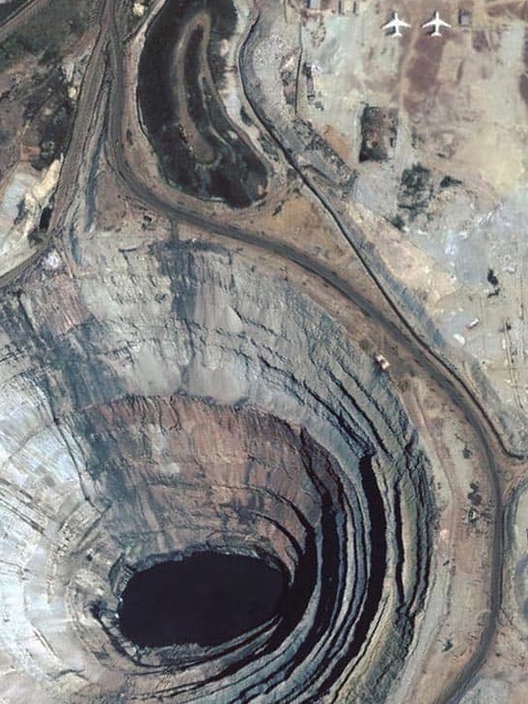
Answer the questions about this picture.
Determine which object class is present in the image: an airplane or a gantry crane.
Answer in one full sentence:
Looking from above, you can make out an airplane.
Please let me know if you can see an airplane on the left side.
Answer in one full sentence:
No, the scene shows no airplane on the left side.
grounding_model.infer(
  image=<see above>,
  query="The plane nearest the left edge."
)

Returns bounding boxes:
[384,12,411,37]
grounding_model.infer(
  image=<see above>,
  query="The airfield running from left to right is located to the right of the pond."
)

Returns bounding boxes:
[346,0,480,51]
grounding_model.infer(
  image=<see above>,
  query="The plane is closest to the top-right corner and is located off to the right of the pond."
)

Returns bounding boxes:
[424,12,450,36]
